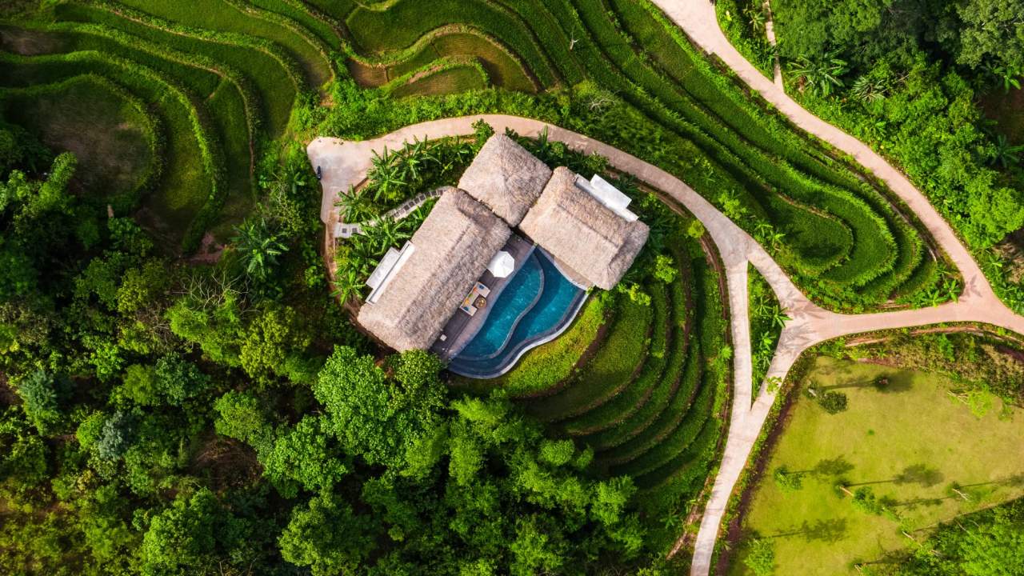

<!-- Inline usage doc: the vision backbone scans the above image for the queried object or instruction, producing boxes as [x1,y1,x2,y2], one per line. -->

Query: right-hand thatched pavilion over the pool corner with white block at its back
[519,167,648,289]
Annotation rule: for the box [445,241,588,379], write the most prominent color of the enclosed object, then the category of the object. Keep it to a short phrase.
blue swimming pool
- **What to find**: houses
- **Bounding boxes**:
[457,132,553,228]
[362,192,508,356]
[519,167,648,289]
